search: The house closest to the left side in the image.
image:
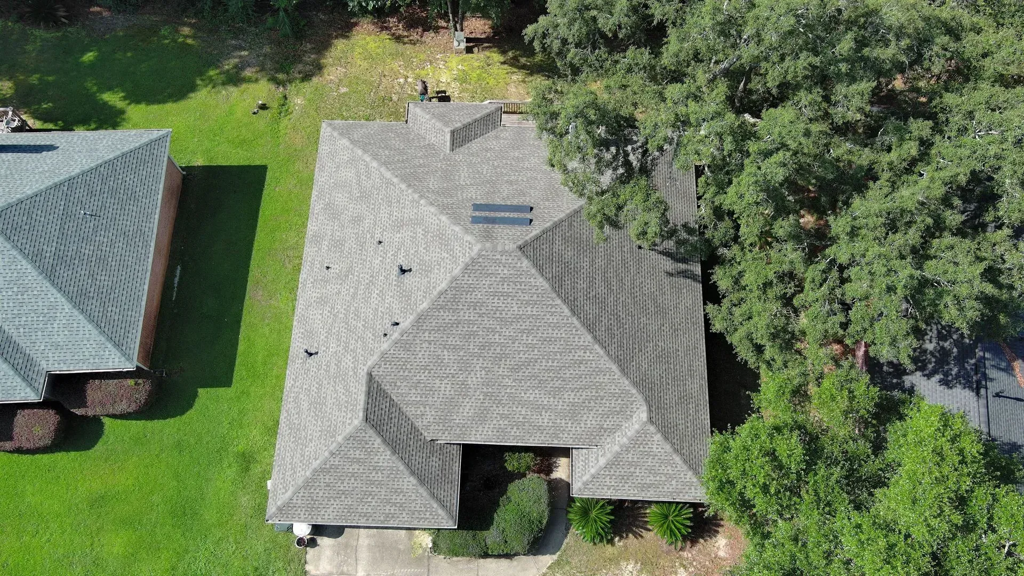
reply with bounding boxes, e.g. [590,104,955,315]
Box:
[0,128,194,404]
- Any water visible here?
No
